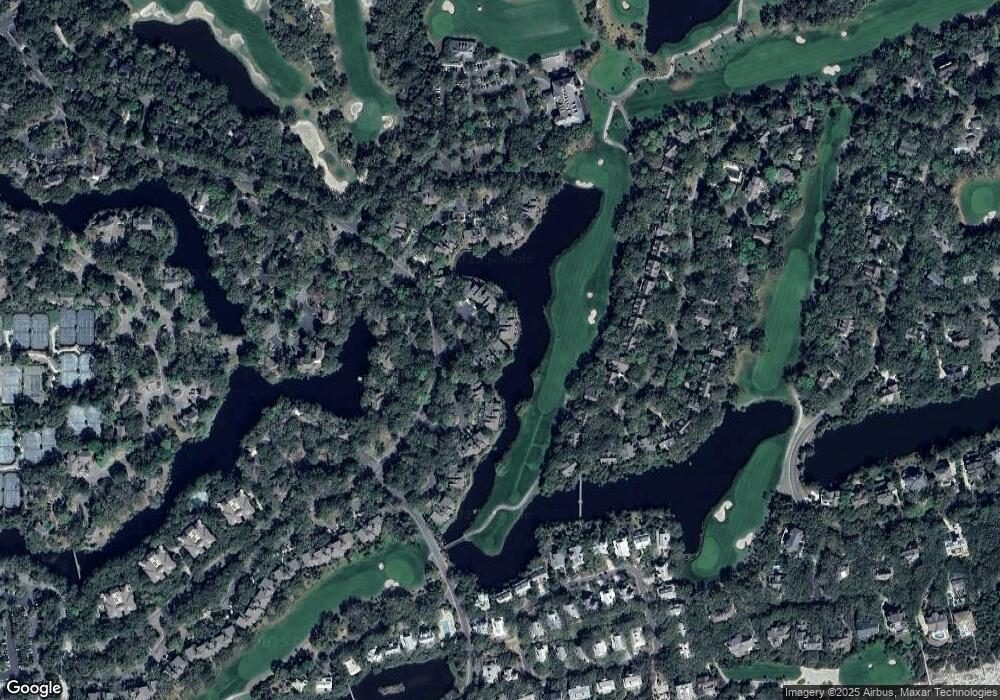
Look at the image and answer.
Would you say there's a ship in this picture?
No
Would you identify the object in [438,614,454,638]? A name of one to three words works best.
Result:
swimming pool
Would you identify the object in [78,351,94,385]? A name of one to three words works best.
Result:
tennis court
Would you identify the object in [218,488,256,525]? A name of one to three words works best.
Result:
house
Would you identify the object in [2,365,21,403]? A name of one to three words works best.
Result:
tennis court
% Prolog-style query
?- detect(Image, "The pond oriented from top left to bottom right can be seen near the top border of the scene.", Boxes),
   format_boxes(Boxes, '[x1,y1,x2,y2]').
[131,20,280,116]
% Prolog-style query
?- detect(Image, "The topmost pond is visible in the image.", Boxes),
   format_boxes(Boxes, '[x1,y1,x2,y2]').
[645,0,733,55]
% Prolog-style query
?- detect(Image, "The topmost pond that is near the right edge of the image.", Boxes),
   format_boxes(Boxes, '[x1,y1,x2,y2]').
[804,391,1000,484]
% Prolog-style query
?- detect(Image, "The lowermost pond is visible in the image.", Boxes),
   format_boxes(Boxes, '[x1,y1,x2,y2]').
[344,658,458,700]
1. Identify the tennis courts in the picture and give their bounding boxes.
[2,365,21,403]
[3,472,21,509]
[76,309,95,345]
[84,404,100,433]
[13,312,30,350]
[21,430,40,461]
[59,309,76,345]
[78,351,94,385]
[41,428,57,458]
[67,404,84,434]
[30,312,48,350]
[61,352,78,390]
[0,429,16,464]
[22,366,42,401]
